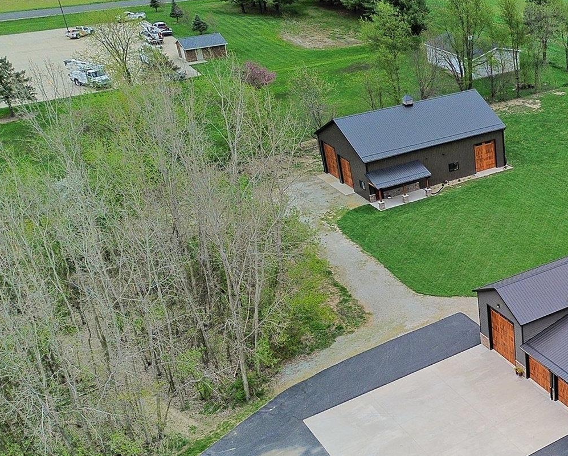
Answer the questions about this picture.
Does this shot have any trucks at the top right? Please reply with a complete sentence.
No, the scene shows no truck at the top right.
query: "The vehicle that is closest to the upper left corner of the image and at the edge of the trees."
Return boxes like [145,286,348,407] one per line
[62,26,98,39]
